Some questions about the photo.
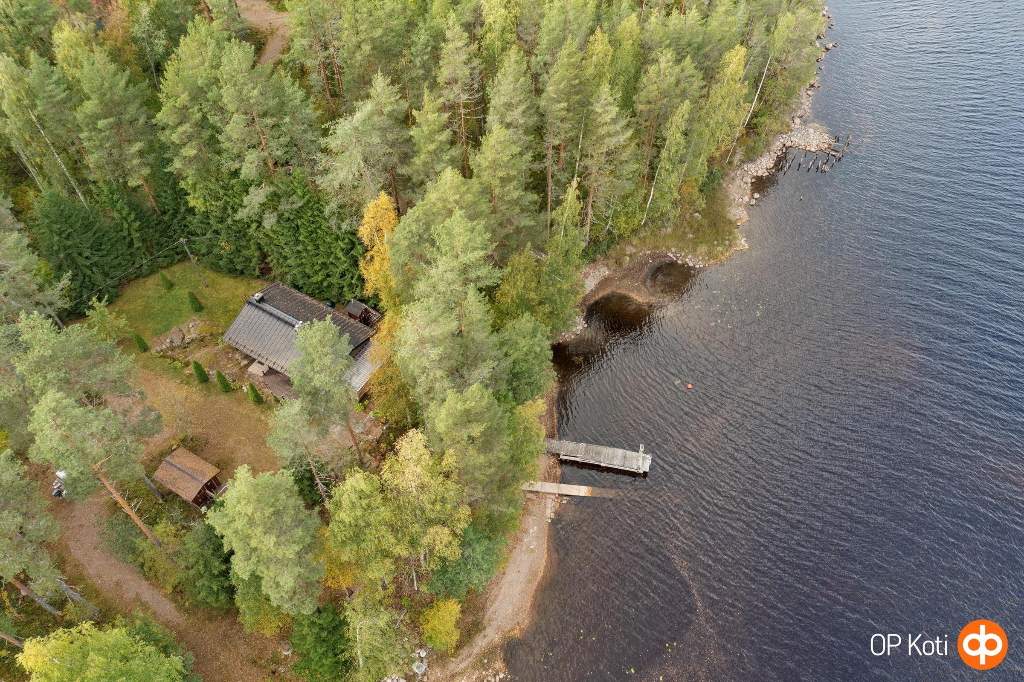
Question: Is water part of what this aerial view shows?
Yes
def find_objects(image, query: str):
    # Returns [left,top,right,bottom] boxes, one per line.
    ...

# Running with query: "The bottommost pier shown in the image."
[543,441,653,478]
